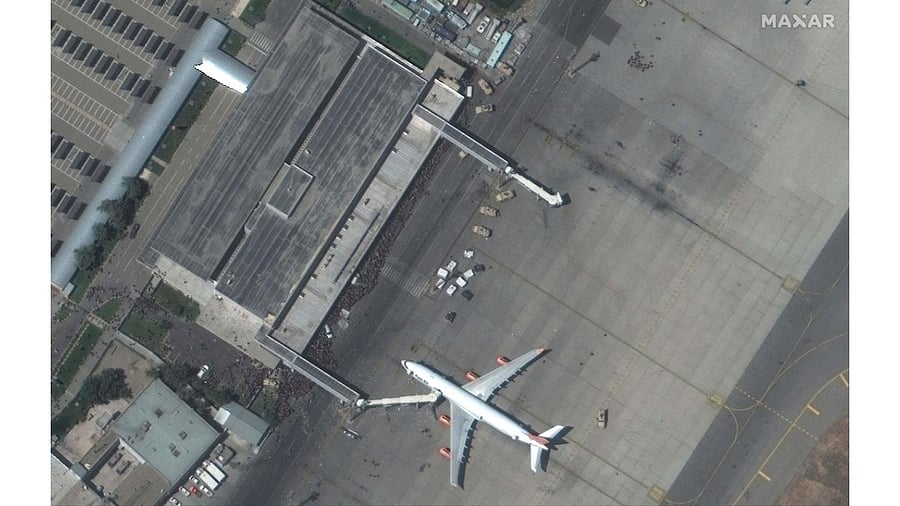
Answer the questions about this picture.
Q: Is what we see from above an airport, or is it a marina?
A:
airport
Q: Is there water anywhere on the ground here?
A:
No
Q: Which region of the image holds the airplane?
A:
bottom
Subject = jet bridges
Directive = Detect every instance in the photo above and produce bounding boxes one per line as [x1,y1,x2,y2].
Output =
[356,388,446,411]
[504,165,564,207]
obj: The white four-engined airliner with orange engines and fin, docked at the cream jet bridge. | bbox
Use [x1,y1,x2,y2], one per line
[401,349,562,487]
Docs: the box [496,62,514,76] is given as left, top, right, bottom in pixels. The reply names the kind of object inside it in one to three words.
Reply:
vehicle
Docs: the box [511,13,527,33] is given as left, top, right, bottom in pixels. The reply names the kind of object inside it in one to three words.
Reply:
vehicle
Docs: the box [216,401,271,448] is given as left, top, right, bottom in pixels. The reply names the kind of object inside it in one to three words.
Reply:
hangar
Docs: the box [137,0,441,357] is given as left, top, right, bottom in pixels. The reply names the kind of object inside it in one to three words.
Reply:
building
